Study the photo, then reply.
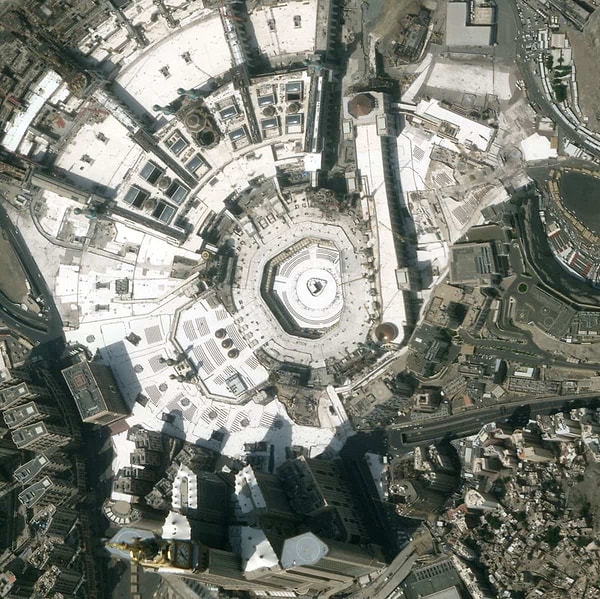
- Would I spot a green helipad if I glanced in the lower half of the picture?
No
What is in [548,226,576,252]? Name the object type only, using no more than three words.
shed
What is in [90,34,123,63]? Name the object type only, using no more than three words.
building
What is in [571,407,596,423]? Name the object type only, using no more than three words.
building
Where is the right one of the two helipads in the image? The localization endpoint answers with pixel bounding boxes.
[280,532,328,567]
